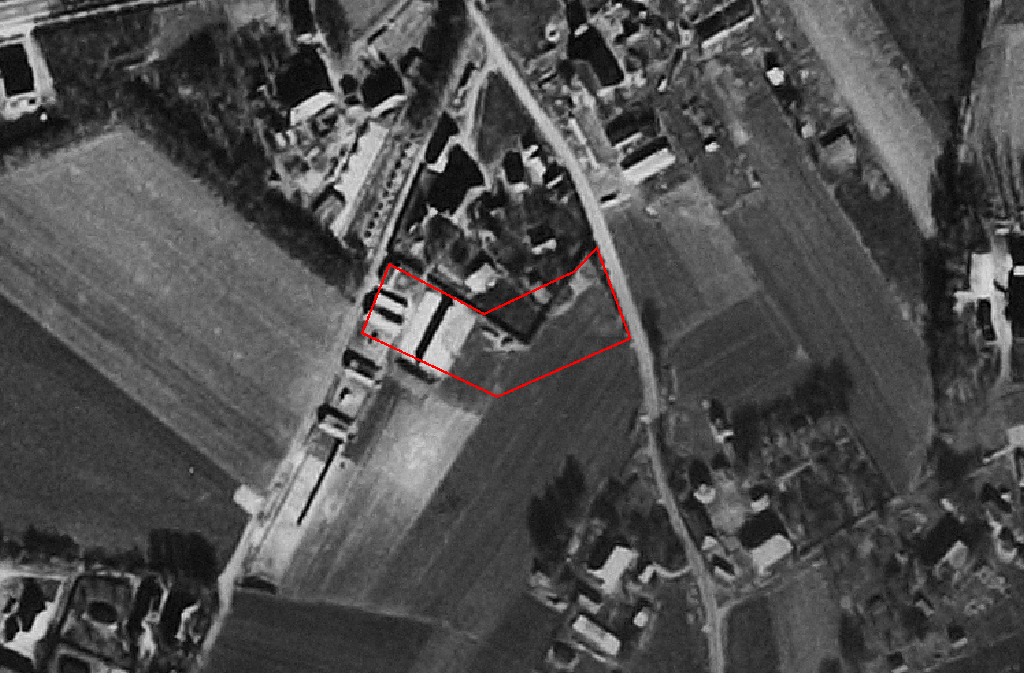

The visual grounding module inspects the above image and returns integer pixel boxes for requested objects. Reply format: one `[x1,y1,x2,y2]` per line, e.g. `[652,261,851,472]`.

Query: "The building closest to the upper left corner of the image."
[0,50,34,95]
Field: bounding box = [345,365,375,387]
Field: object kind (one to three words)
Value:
house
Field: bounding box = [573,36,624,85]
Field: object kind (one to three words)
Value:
barn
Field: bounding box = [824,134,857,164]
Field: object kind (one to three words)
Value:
building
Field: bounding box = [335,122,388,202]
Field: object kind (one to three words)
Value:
shed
